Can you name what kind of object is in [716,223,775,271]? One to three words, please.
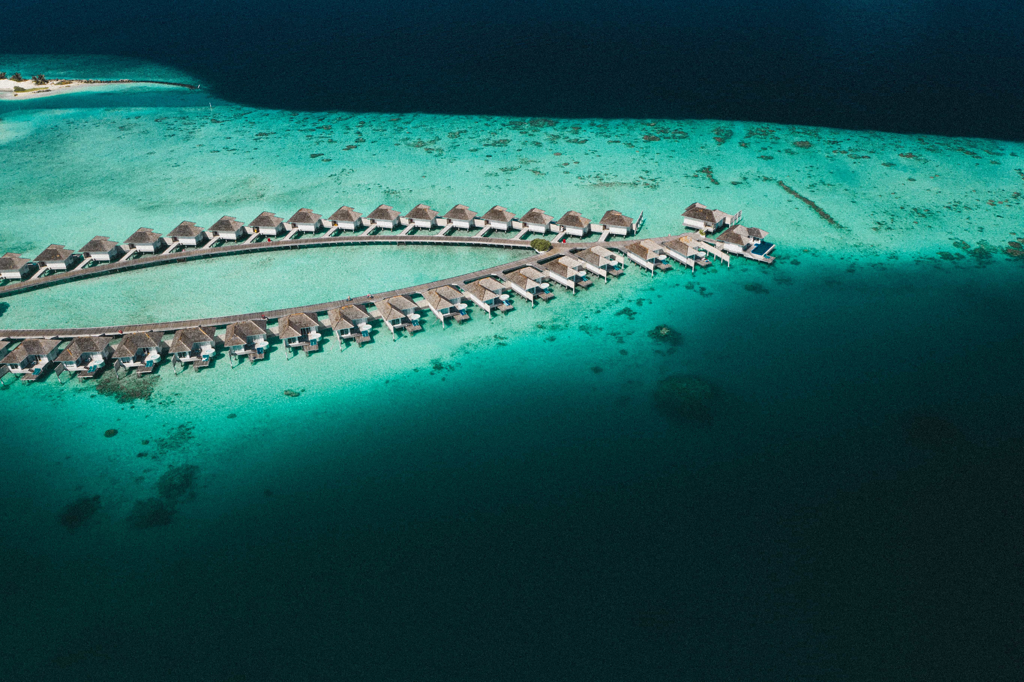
house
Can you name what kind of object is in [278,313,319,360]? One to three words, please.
house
